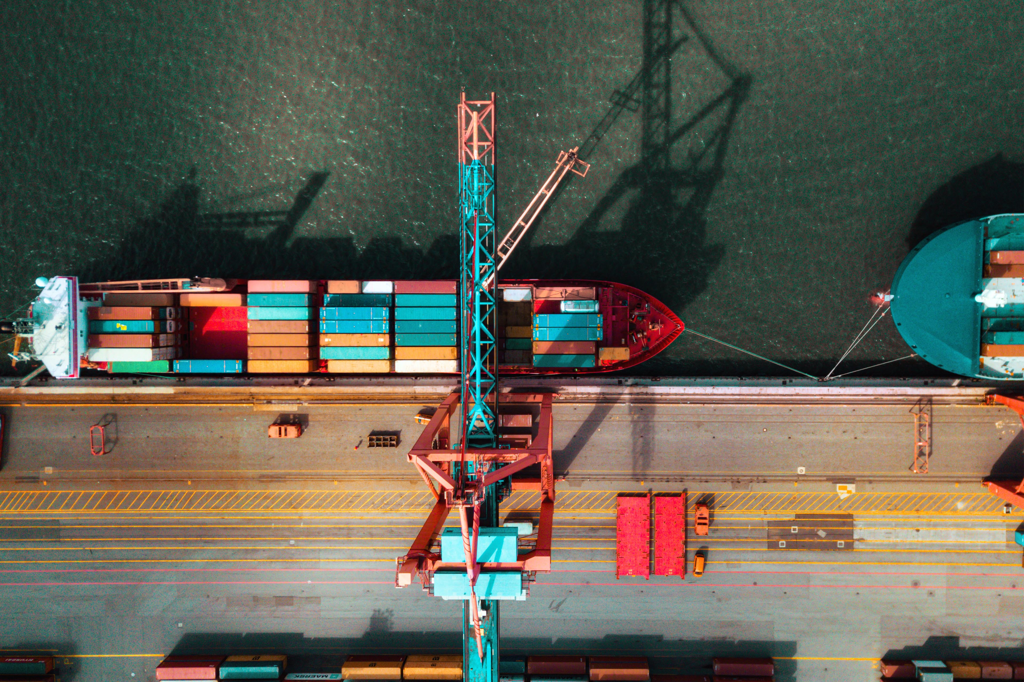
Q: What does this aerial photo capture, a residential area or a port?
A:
port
